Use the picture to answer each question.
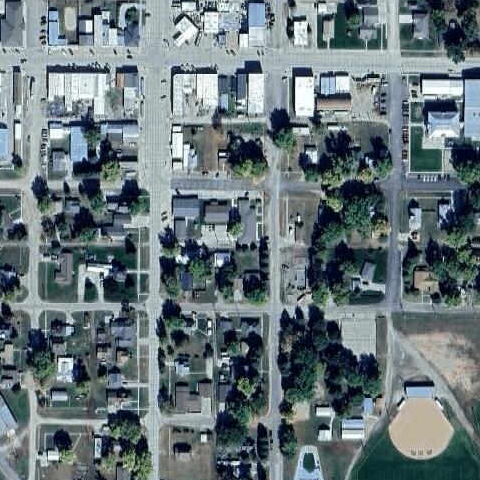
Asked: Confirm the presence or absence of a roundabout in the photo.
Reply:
No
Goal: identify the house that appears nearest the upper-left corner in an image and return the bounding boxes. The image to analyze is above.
[1,0,23,46]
